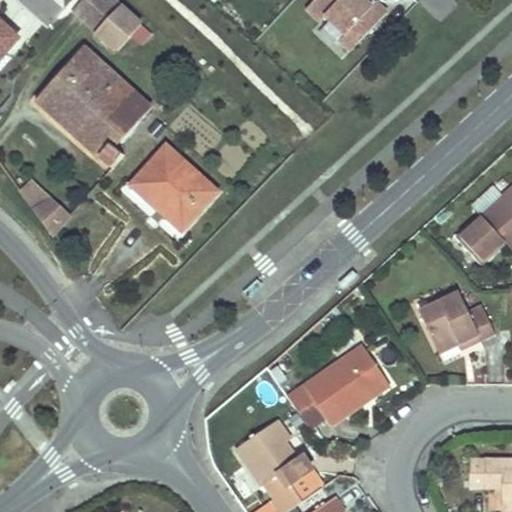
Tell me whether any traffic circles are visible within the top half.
No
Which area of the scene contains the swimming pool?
bottom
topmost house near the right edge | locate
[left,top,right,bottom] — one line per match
[458,184,512,264]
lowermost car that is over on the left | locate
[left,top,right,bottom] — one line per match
[126,228,140,244]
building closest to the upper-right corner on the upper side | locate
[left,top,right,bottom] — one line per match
[304,0,389,62]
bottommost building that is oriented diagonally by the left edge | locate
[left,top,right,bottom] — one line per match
[19,178,72,238]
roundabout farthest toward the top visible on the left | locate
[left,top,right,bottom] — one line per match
[59,350,192,472]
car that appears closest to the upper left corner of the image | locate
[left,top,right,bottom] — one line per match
[150,119,165,136]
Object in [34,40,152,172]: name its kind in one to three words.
house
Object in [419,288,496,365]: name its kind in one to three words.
house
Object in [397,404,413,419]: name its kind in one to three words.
car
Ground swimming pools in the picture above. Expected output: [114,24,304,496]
[256,380,278,406]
